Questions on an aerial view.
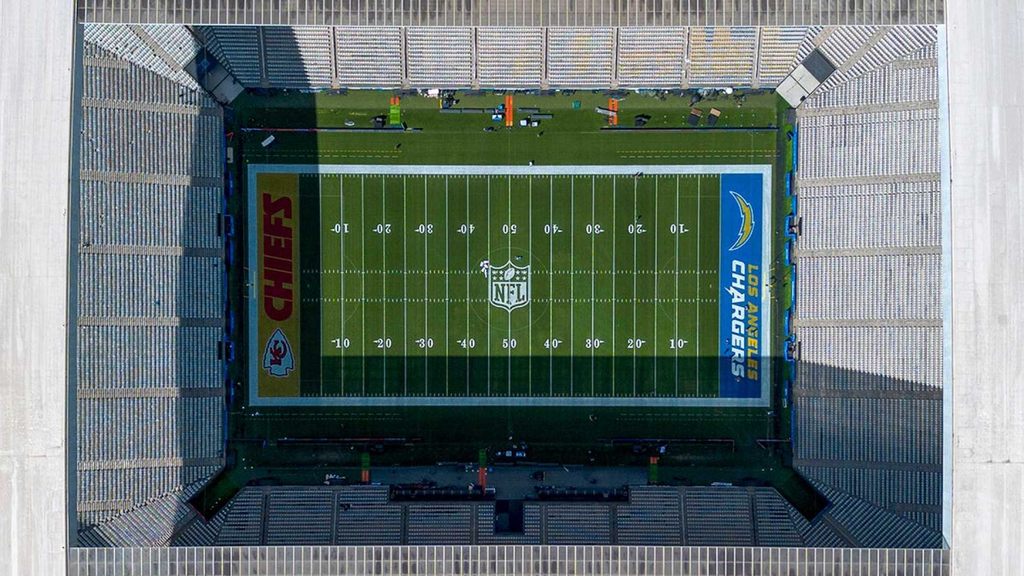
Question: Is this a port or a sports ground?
sports ground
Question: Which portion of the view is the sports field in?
center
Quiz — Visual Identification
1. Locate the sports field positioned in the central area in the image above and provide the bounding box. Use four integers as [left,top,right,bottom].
[207,75,812,499]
